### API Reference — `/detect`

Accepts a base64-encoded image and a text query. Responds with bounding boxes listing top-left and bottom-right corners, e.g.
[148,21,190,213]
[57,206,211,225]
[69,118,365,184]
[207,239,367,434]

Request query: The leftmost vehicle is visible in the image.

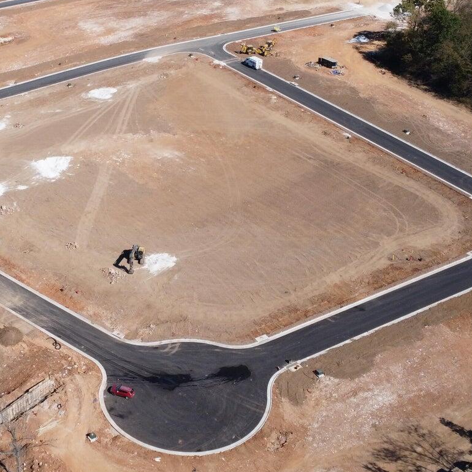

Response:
[109,385,134,398]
